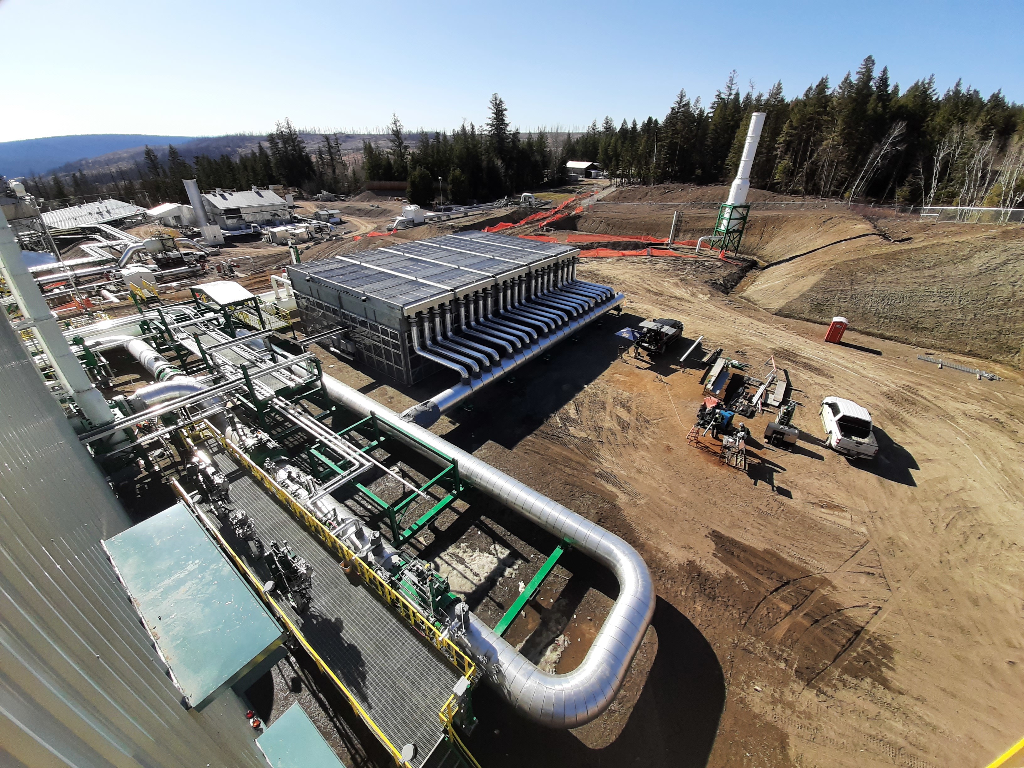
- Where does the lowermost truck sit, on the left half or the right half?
right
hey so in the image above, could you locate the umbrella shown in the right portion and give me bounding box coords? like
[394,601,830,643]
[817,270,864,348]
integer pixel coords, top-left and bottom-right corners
[613,327,645,358]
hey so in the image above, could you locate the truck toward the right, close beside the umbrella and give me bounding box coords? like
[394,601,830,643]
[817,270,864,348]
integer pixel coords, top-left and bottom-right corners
[636,317,687,352]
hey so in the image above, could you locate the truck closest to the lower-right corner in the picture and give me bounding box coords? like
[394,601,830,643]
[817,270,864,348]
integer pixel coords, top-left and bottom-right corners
[819,393,882,463]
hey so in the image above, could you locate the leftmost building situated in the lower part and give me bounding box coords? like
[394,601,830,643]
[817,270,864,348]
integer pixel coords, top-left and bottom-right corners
[0,337,343,768]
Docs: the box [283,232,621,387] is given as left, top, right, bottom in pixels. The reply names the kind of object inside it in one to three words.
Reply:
building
